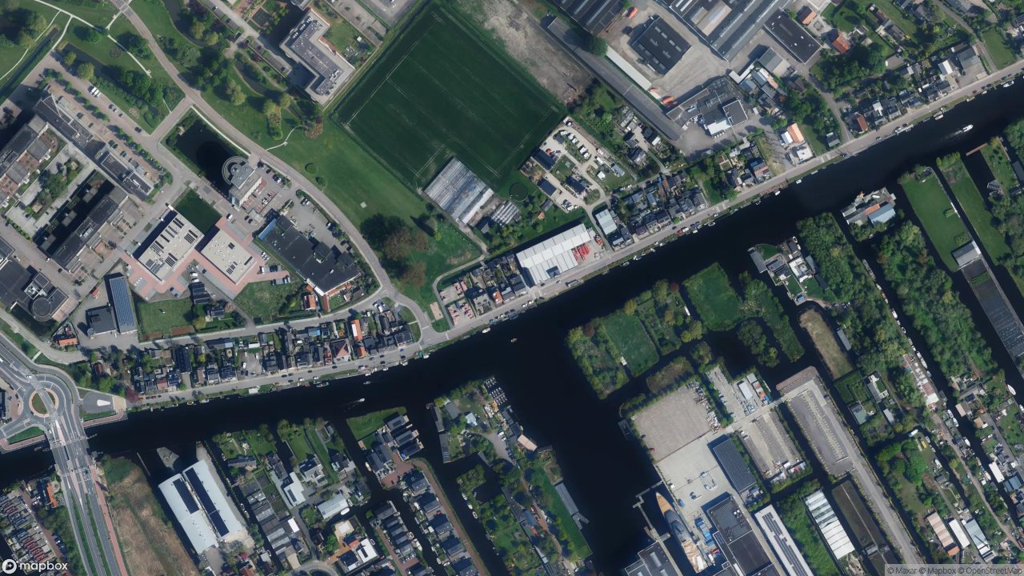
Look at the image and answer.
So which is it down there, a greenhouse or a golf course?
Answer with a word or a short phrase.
greenhouse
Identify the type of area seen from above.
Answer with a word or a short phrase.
port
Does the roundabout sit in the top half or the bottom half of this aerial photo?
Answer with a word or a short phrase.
bottom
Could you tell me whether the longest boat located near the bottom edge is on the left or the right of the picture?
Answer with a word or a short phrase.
right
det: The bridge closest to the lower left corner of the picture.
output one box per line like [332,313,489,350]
[48,432,102,468]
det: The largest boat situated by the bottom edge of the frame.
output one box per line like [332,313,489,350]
[656,493,706,571]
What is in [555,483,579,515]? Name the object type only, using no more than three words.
boat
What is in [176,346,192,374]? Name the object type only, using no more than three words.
house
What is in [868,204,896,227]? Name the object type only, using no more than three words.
barn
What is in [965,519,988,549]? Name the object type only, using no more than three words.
building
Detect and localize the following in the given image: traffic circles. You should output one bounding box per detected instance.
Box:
[18,377,70,428]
